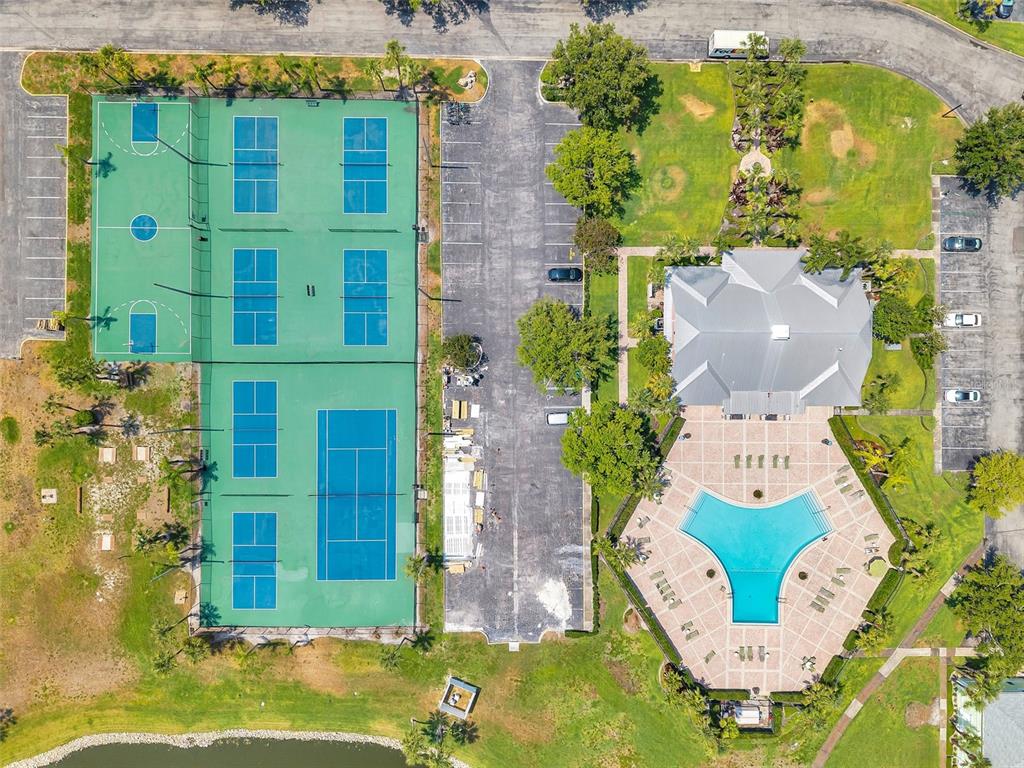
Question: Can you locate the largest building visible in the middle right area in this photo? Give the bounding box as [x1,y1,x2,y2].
[664,249,873,414]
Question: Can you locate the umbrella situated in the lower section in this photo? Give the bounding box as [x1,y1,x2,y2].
[867,557,887,576]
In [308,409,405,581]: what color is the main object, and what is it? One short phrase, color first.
blue tennis court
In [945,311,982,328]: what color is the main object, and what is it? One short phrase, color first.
white car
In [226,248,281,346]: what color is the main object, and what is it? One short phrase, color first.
blue sports court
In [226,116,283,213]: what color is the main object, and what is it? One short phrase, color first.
blue sports court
